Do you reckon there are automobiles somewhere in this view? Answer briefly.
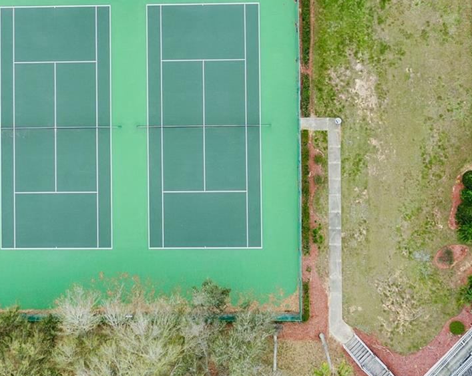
No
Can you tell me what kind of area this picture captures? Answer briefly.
sports ground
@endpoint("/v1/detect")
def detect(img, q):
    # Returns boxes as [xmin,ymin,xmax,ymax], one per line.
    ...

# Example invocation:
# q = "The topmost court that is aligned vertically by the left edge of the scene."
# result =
[0,4,113,250]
